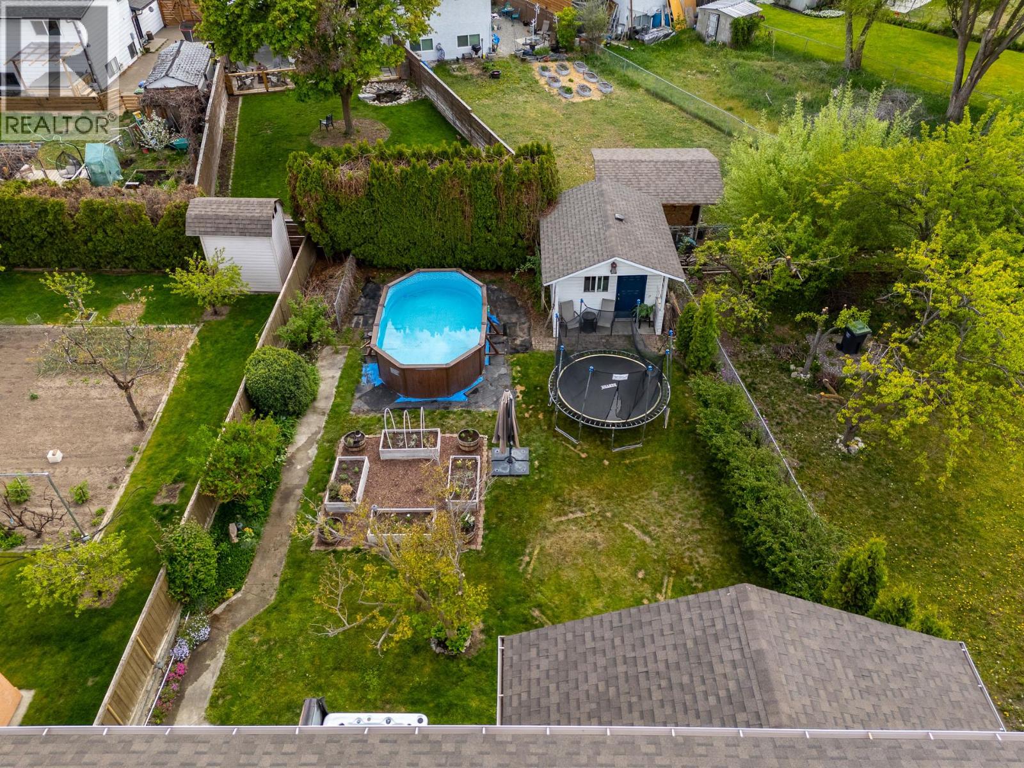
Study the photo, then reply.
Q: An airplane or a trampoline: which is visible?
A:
trampoline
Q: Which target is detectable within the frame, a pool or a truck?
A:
pool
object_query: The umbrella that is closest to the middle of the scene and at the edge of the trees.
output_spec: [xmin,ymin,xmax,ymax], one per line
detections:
[493,388,529,475]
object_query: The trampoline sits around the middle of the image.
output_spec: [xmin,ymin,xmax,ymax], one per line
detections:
[546,299,673,453]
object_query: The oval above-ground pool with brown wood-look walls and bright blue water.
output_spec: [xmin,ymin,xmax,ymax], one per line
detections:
[350,268,512,397]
